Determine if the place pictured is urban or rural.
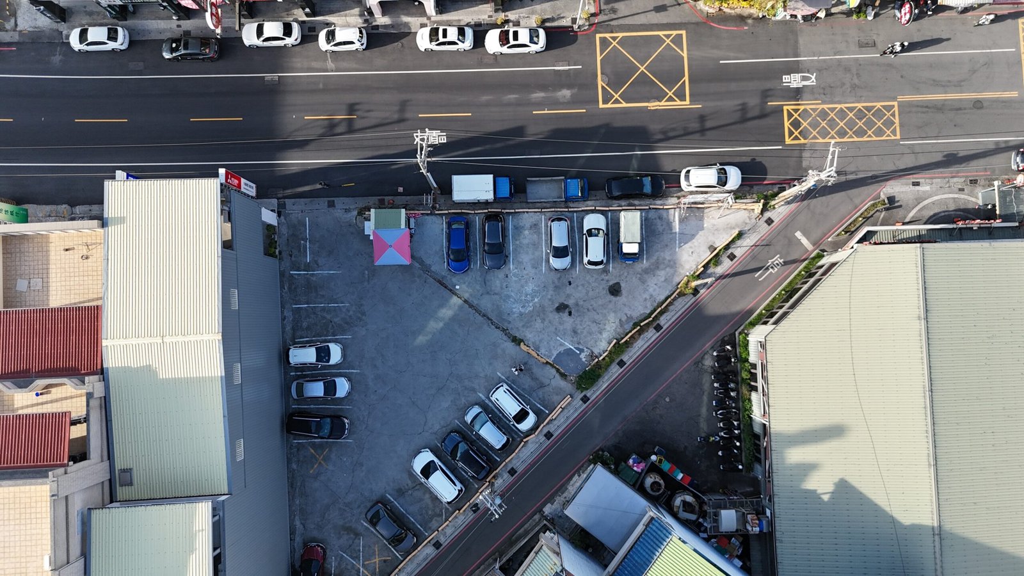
urban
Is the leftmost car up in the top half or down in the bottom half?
top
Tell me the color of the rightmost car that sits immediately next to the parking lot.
white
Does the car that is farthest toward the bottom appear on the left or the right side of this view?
left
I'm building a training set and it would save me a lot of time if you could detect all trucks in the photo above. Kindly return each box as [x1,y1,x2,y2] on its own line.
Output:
[618,209,645,264]
[450,171,516,201]
[526,173,589,201]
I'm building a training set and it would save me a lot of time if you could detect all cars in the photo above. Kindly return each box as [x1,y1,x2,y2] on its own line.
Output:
[440,427,493,485]
[463,402,512,453]
[1010,149,1024,174]
[297,542,328,576]
[290,373,352,402]
[486,381,538,434]
[318,24,368,54]
[68,23,130,53]
[581,213,609,269]
[606,171,665,200]
[284,339,344,368]
[484,24,546,55]
[242,18,302,49]
[416,22,474,52]
[680,162,741,192]
[479,212,508,270]
[161,33,221,63]
[546,216,574,271]
[285,411,350,442]
[411,446,466,507]
[443,216,471,273]
[365,499,416,555]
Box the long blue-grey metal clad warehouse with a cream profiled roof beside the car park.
[101,176,284,576]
